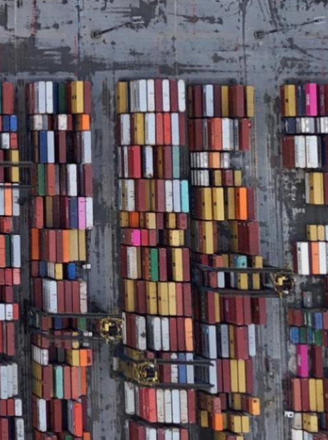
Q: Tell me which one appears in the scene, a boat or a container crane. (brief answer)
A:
container crane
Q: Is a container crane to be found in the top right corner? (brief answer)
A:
No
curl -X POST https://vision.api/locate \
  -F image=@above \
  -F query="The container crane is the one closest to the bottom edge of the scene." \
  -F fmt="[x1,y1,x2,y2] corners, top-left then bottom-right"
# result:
[115,345,212,392]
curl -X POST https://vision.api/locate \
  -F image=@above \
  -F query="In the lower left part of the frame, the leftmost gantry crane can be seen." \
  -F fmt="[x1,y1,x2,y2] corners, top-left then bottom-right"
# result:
[28,301,119,344]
